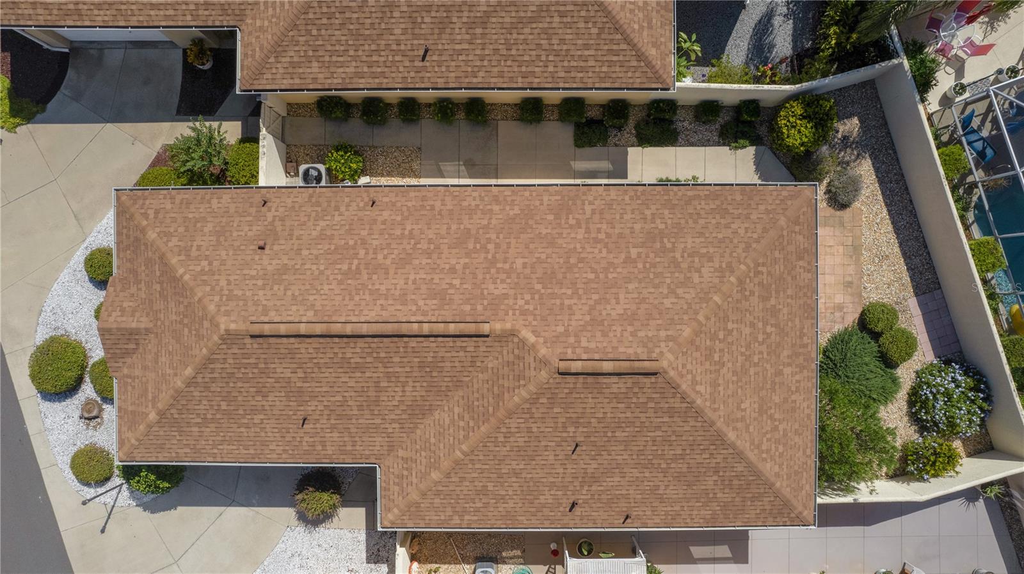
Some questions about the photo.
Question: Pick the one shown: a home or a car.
home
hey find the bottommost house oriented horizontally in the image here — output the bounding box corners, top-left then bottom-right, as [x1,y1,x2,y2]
[95,186,818,529]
